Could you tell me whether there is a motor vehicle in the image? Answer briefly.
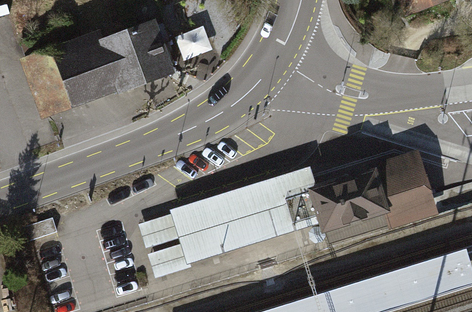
Yes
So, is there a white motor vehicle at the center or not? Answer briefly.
Yes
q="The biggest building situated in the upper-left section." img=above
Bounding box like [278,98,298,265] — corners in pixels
[52,17,174,107]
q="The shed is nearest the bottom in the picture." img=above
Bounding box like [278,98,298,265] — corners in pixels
[148,244,188,278]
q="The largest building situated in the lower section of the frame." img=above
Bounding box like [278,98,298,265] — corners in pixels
[170,167,314,265]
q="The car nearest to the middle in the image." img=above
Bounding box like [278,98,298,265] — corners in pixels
[216,142,238,160]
